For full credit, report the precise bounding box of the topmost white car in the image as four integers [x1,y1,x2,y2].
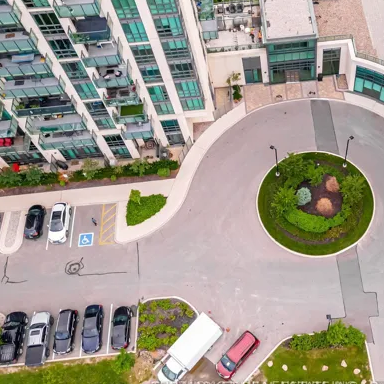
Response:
[47,204,72,246]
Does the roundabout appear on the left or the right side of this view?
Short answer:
right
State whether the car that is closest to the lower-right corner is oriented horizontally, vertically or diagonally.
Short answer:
diagonally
